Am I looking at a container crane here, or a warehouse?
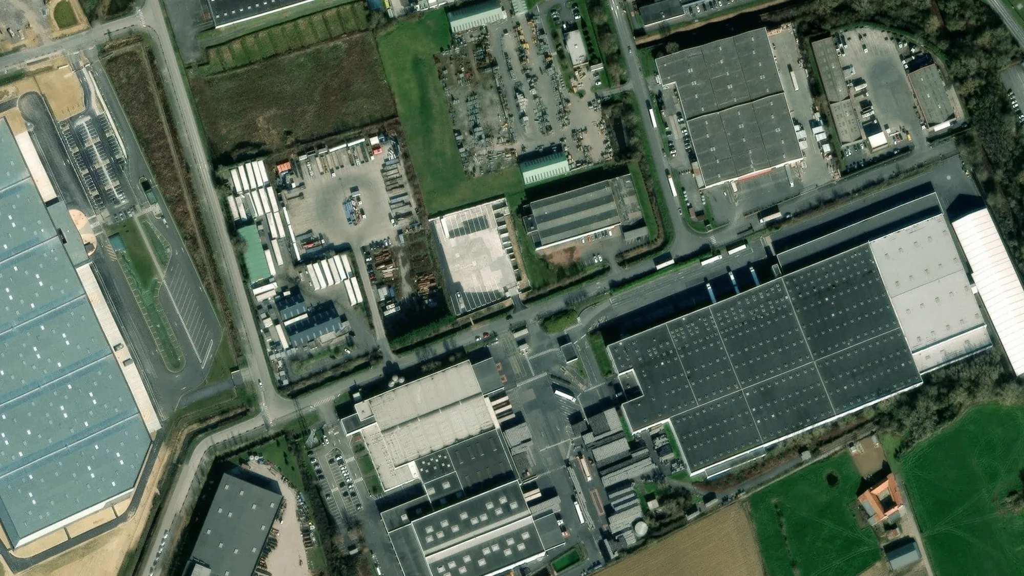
warehouse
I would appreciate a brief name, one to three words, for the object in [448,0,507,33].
shed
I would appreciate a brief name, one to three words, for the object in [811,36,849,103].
building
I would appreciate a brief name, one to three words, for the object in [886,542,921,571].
barn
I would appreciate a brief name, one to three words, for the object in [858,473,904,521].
house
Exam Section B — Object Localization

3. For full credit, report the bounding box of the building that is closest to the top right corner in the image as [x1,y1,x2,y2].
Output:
[907,64,956,129]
